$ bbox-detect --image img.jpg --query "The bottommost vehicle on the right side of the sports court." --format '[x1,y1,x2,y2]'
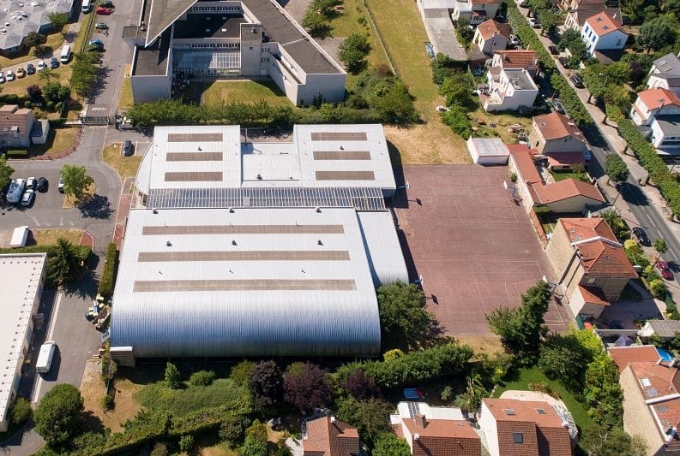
[654,261,676,281]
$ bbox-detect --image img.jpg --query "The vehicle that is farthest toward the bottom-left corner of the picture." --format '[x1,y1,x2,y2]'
[33,341,58,379]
